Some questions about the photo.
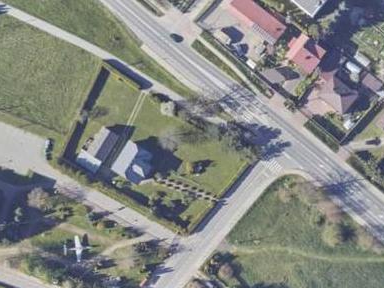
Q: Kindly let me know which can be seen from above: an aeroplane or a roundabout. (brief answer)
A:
aeroplane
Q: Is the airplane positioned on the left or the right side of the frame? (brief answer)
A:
left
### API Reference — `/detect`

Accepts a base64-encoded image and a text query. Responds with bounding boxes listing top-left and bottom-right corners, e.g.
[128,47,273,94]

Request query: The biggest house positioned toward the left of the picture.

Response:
[110,139,155,184]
